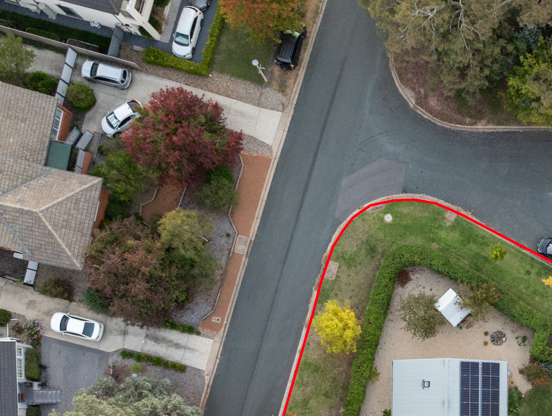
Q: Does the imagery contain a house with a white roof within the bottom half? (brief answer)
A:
Yes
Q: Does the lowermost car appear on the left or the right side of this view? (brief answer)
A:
left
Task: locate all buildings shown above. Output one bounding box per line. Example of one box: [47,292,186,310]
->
[0,314,61,416]
[23,0,180,60]
[390,357,509,416]
[434,288,470,327]
[0,82,110,271]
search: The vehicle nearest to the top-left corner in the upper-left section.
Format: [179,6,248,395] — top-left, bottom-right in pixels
[80,59,135,94]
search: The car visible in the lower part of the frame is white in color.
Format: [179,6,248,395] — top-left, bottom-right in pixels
[49,312,107,342]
